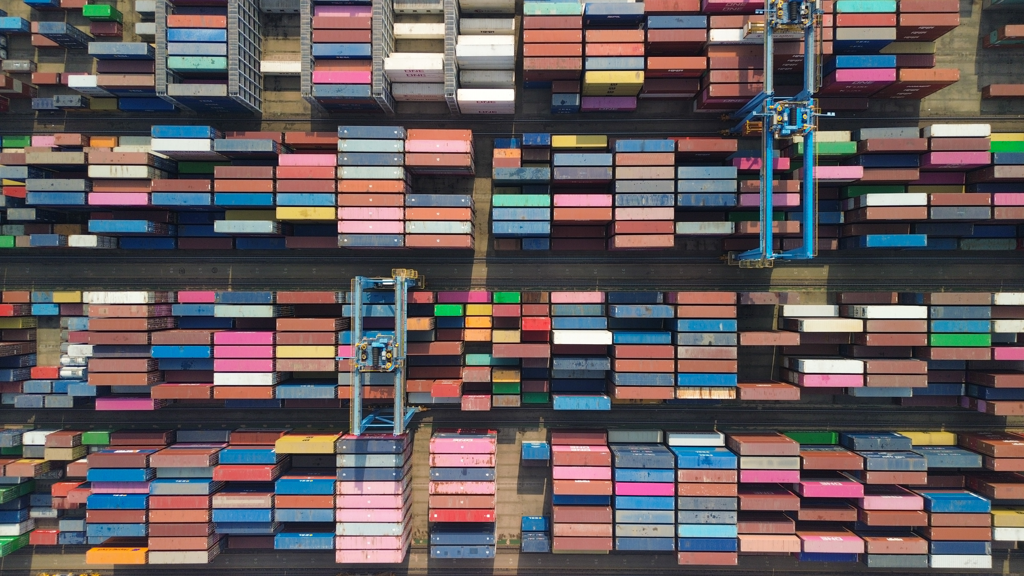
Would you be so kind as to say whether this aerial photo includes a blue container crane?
Yes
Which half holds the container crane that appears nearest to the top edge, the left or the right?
right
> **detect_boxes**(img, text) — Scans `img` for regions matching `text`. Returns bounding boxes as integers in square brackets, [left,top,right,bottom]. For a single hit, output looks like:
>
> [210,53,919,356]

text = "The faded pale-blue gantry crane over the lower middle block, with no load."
[335,268,434,439]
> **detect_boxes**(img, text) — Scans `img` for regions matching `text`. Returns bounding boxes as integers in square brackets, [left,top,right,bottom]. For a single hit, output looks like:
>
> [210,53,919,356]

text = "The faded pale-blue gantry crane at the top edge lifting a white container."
[713,0,821,121]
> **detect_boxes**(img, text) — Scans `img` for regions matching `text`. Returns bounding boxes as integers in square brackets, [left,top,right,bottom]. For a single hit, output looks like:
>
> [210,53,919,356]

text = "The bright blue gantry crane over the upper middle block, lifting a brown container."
[712,96,835,271]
